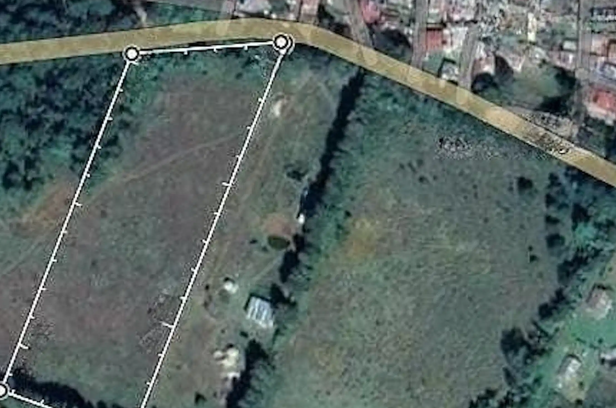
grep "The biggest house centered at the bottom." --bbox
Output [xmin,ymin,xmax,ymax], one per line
[247,297,275,327]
